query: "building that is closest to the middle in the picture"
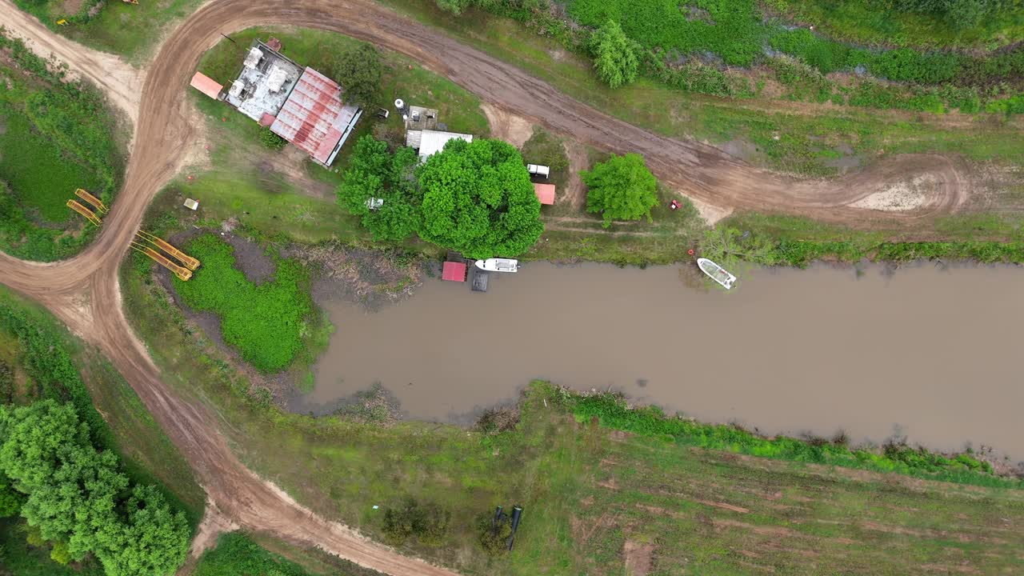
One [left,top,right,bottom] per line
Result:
[442,260,469,282]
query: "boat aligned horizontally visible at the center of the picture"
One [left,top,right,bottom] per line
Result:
[476,258,521,272]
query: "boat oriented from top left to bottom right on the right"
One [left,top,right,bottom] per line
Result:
[699,253,737,291]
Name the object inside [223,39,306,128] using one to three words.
house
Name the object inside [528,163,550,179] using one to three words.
vehicle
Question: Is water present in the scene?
Yes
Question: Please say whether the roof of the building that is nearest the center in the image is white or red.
red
